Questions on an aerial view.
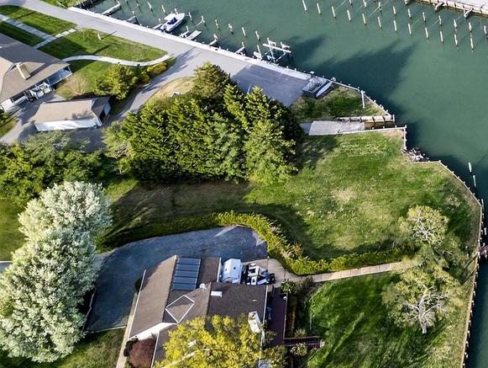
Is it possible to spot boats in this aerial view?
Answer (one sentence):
Yes, the picture does show a boat.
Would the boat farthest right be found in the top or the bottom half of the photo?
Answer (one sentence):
You can find the boat farthest right in the top half.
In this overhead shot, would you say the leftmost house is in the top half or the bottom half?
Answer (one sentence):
The leftmost house sits in the top half of the picture.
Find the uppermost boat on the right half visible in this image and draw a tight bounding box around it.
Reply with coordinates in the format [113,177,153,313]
[300,72,332,96]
